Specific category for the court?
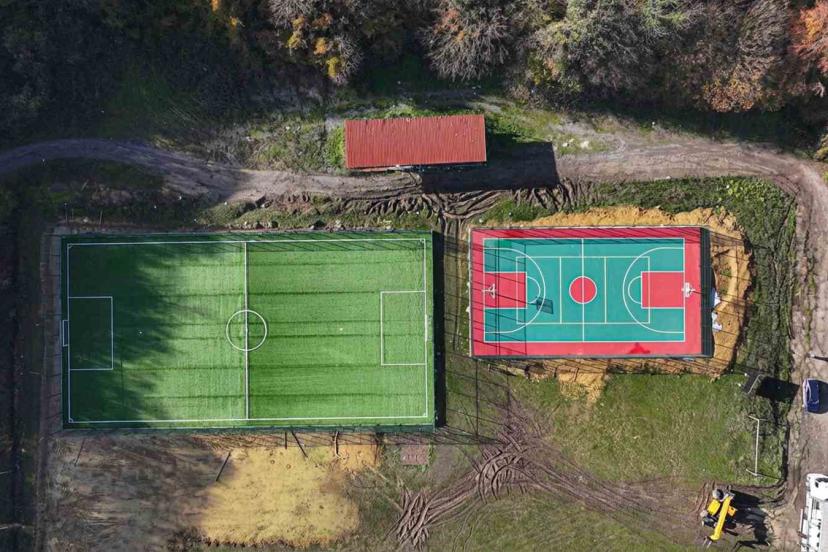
basketball court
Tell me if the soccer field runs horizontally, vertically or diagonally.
horizontally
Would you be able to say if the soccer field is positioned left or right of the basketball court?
to the left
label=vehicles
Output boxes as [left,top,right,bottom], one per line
[693,486,737,545]
[803,381,822,411]
[802,474,828,552]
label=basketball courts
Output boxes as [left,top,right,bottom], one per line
[471,227,703,357]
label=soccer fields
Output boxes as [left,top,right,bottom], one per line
[61,231,433,428]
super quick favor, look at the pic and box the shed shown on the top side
[344,114,488,171]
